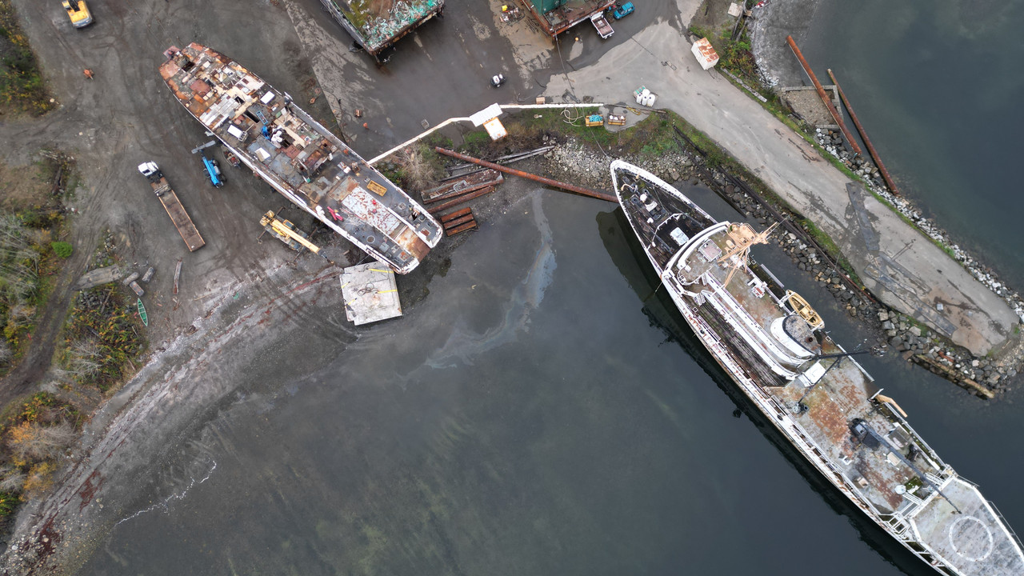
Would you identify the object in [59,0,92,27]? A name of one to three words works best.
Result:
work vehicle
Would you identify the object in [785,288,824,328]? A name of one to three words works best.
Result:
boat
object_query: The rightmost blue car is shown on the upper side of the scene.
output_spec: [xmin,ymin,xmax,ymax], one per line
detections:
[613,1,635,20]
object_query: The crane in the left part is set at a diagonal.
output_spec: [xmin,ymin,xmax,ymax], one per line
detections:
[258,207,331,263]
